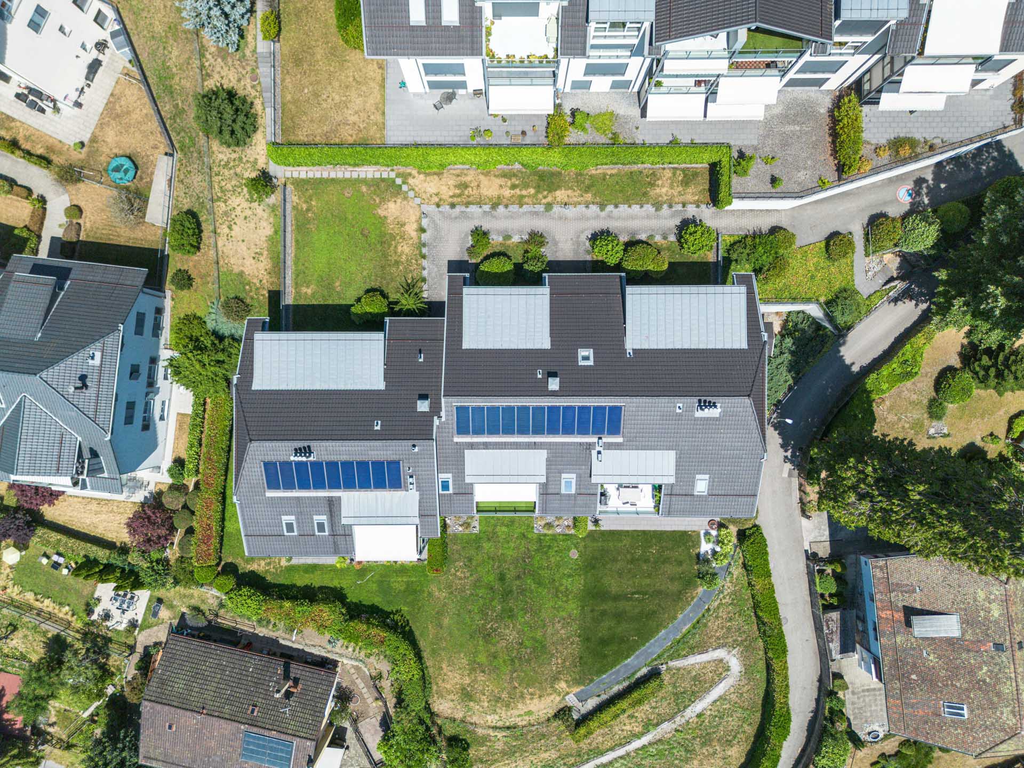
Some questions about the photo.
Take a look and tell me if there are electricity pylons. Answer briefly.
No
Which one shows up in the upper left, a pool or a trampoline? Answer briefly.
trampoline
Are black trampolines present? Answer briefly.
No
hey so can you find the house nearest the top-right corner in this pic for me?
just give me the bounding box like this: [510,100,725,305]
[778,0,1024,111]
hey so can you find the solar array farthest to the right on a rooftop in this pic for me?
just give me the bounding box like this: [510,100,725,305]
[454,405,624,436]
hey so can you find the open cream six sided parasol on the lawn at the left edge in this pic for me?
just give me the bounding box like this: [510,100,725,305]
[3,544,35,564]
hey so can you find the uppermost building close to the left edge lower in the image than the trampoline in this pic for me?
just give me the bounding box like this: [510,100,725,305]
[0,253,173,494]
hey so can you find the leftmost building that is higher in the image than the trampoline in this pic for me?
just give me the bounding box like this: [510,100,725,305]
[0,0,123,107]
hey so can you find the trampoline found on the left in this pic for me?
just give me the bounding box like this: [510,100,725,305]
[103,152,147,188]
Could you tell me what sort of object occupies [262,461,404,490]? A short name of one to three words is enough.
solar array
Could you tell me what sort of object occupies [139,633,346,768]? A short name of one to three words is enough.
house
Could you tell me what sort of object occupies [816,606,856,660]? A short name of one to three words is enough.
shed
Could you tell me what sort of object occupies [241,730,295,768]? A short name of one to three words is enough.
solar array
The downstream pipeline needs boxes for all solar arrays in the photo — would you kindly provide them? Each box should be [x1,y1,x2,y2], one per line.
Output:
[241,730,295,768]
[454,405,624,436]
[262,461,404,490]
